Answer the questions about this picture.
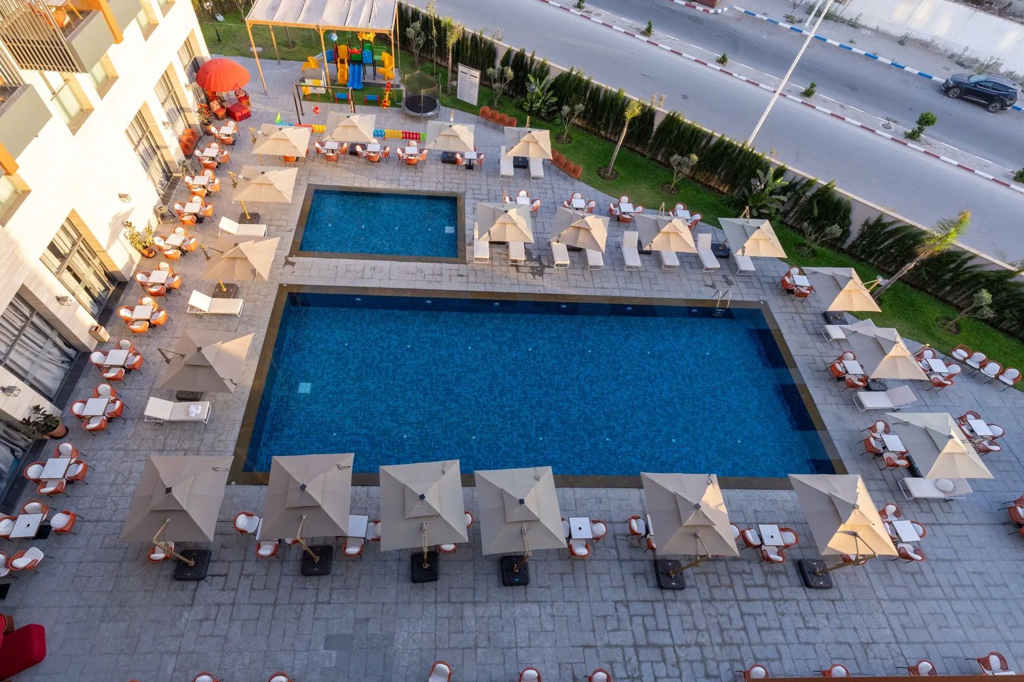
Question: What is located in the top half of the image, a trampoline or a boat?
trampoline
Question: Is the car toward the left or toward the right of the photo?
right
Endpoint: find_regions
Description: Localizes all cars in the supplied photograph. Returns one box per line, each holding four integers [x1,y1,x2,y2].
[944,72,1024,111]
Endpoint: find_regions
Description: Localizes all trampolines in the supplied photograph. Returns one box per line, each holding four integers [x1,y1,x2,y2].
[400,73,441,125]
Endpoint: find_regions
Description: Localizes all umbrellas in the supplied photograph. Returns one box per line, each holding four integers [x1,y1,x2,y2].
[800,267,882,325]
[633,202,698,253]
[156,329,253,402]
[322,101,376,154]
[118,457,233,580]
[549,199,610,255]
[476,191,535,245]
[199,235,279,300]
[641,472,740,589]
[888,413,993,480]
[712,205,788,259]
[839,327,929,389]
[504,116,553,168]
[475,467,569,586]
[250,123,312,167]
[194,62,256,108]
[790,476,898,588]
[258,455,354,577]
[381,462,470,582]
[426,110,475,162]
[229,166,296,223]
